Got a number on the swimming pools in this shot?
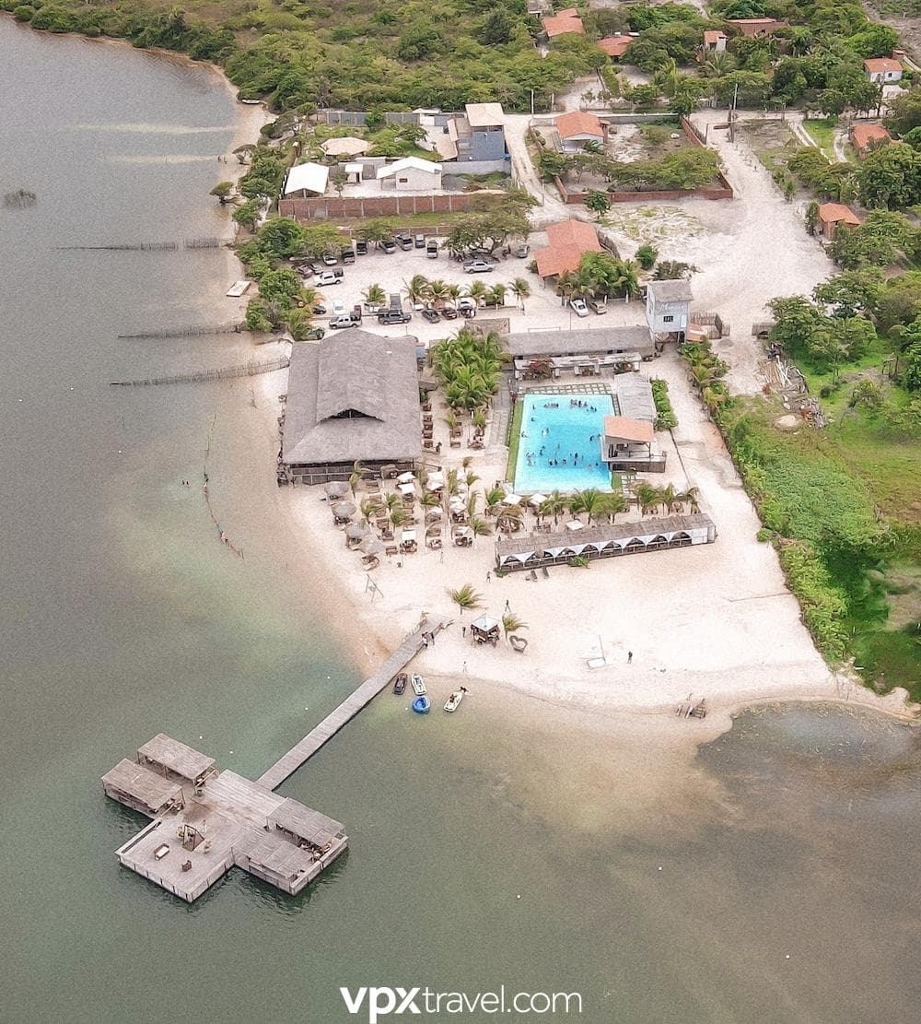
one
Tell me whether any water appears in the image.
Yes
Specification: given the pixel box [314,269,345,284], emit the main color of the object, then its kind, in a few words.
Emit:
white vehicle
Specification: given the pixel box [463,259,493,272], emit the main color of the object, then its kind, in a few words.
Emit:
white vehicle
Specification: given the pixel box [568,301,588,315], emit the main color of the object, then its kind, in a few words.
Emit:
white car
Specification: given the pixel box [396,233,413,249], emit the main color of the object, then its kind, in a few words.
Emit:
gray car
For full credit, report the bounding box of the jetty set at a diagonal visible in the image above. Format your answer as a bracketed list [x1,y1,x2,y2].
[258,612,469,794]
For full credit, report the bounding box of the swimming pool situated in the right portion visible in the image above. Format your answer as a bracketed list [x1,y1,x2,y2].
[510,392,618,499]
